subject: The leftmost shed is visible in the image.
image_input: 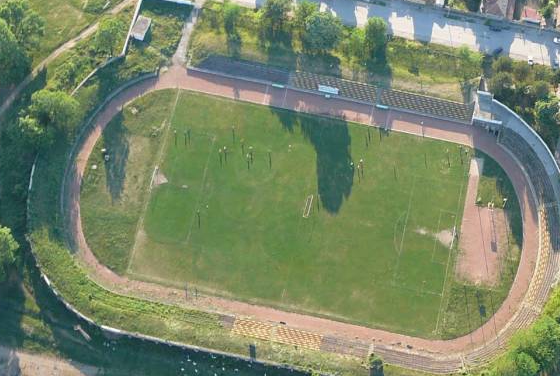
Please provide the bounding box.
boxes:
[132,16,151,41]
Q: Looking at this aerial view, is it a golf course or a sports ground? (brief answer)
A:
sports ground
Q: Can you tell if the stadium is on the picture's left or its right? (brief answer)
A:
right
